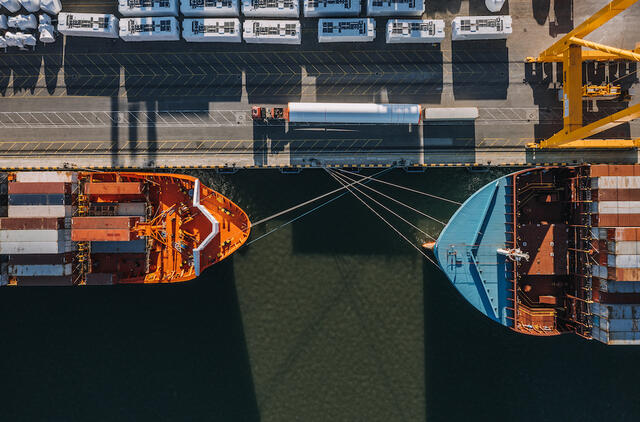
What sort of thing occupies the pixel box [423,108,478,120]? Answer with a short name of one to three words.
vehicle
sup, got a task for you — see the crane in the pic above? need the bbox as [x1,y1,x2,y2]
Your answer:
[519,0,640,150]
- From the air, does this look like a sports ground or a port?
port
